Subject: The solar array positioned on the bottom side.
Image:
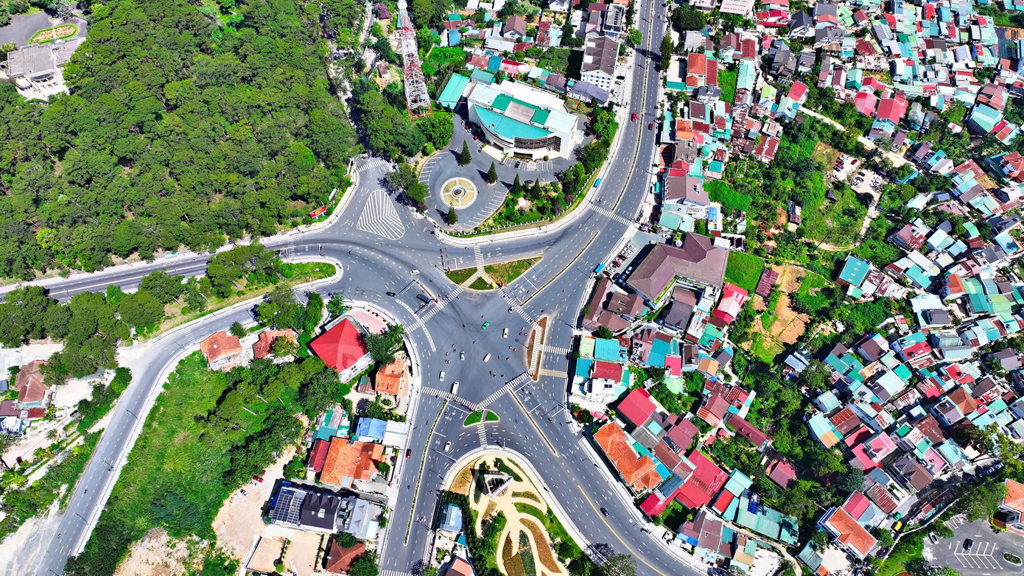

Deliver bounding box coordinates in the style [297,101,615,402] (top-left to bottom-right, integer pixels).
[274,490,307,524]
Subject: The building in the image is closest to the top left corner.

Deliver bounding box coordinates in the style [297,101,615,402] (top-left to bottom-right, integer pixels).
[7,36,91,86]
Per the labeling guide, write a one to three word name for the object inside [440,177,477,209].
fountain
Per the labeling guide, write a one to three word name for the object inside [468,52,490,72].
shed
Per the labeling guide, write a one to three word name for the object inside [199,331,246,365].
house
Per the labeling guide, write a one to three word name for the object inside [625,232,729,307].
building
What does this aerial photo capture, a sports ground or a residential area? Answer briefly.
residential area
